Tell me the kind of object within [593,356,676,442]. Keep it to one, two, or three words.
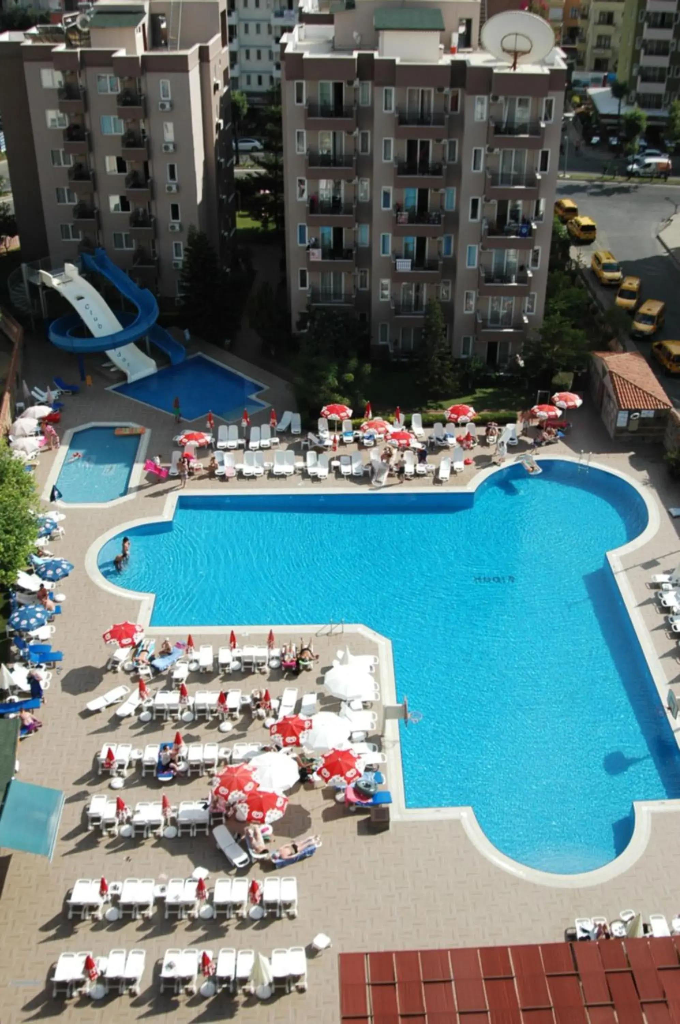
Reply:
shed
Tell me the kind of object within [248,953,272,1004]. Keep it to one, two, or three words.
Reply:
umbrella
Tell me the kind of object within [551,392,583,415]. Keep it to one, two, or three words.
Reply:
umbrella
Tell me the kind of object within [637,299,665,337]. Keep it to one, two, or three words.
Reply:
car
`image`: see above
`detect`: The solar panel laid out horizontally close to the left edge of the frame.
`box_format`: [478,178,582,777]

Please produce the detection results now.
[25,21,84,41]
